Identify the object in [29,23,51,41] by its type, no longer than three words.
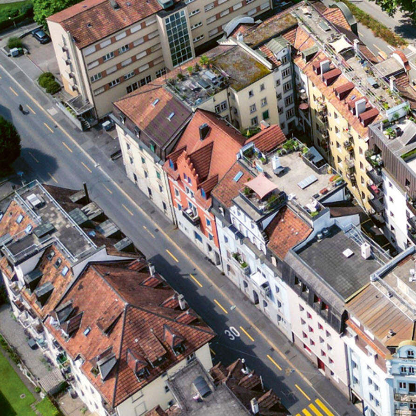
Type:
car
